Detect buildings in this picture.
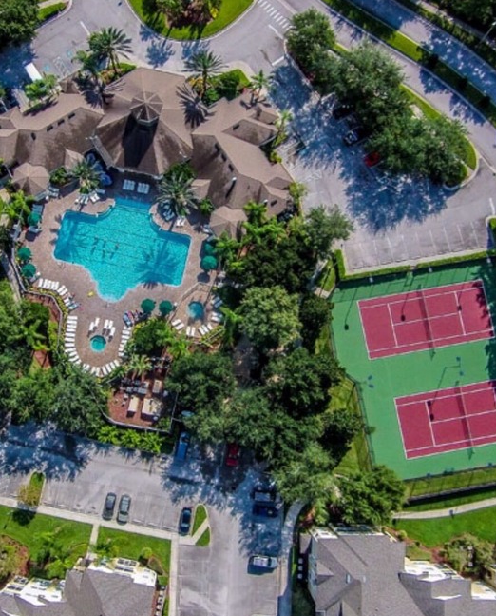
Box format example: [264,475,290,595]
[307,524,496,616]
[0,68,293,216]
[0,558,164,616]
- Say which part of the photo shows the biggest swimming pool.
left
